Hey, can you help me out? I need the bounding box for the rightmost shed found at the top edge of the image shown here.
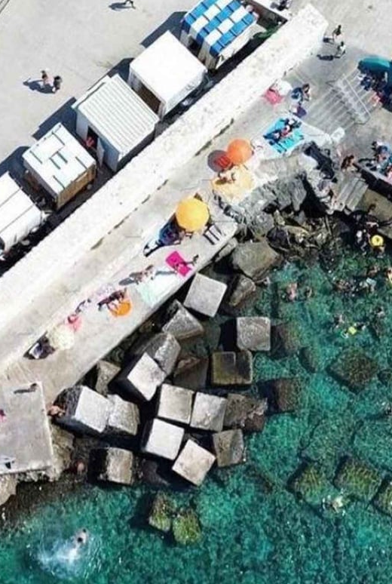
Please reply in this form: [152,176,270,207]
[178,0,259,74]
